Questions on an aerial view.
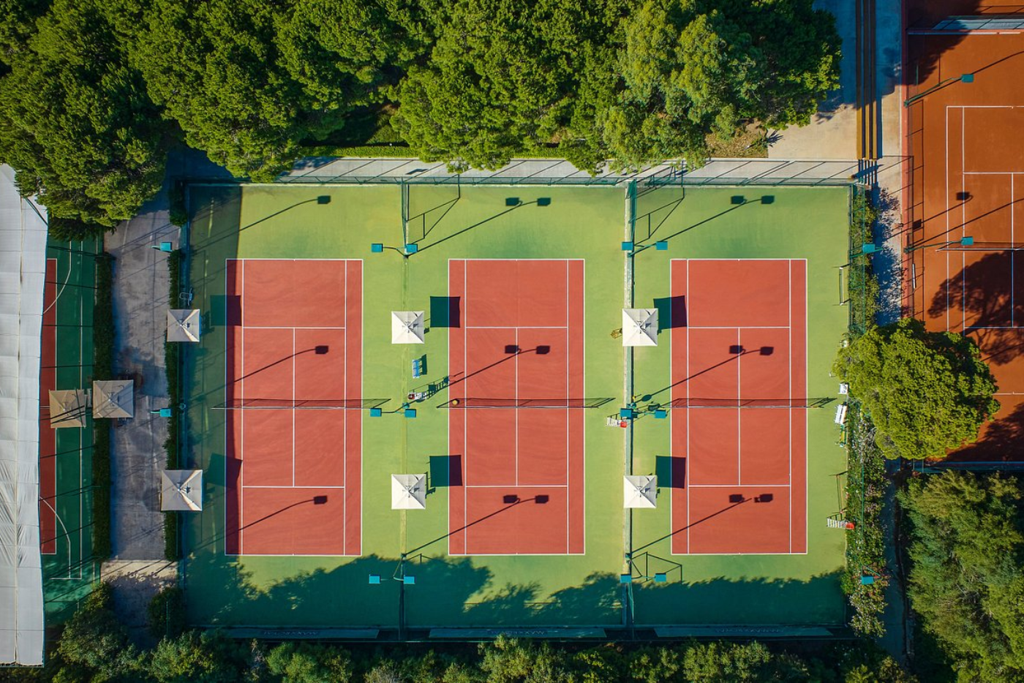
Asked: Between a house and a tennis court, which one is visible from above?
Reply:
tennis court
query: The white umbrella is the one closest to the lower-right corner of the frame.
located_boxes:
[623,473,657,507]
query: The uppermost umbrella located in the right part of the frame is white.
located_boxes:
[622,309,658,345]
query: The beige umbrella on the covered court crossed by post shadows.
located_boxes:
[51,389,89,427]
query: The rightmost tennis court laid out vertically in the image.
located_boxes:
[909,34,1024,462]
